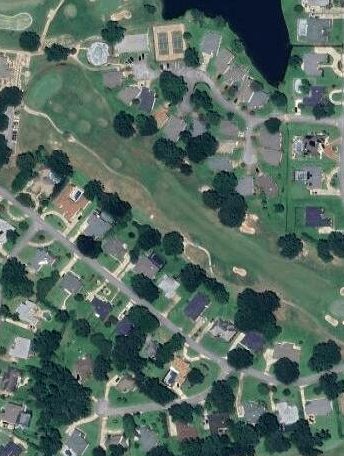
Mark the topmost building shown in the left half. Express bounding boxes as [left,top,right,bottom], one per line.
[118,34,151,53]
